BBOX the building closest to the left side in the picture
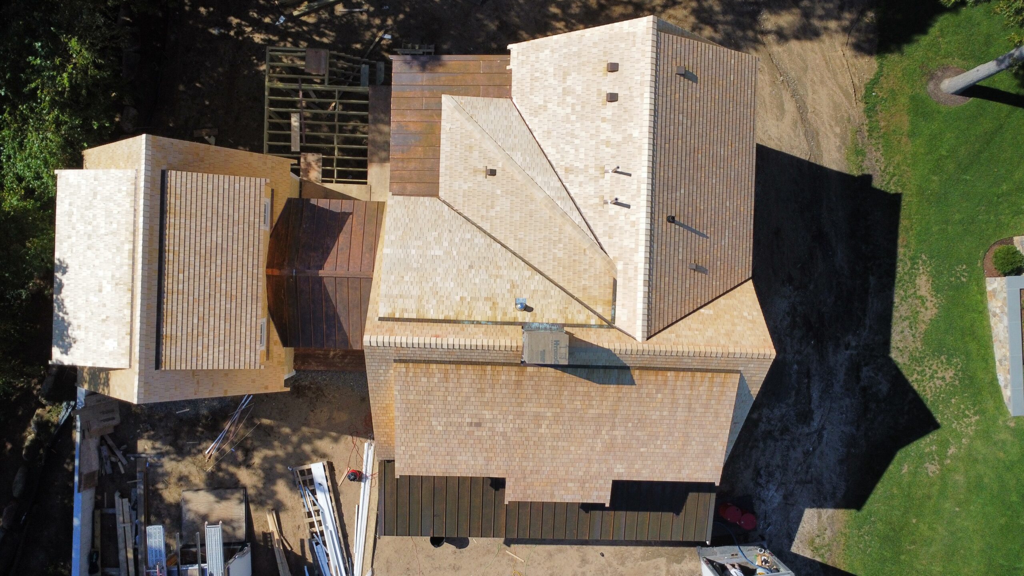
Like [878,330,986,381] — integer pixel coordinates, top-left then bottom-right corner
[46,135,302,402]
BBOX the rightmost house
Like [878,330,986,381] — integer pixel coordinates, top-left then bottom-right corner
[364,16,776,546]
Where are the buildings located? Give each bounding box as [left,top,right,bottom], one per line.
[46,135,302,402]
[364,16,776,546]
